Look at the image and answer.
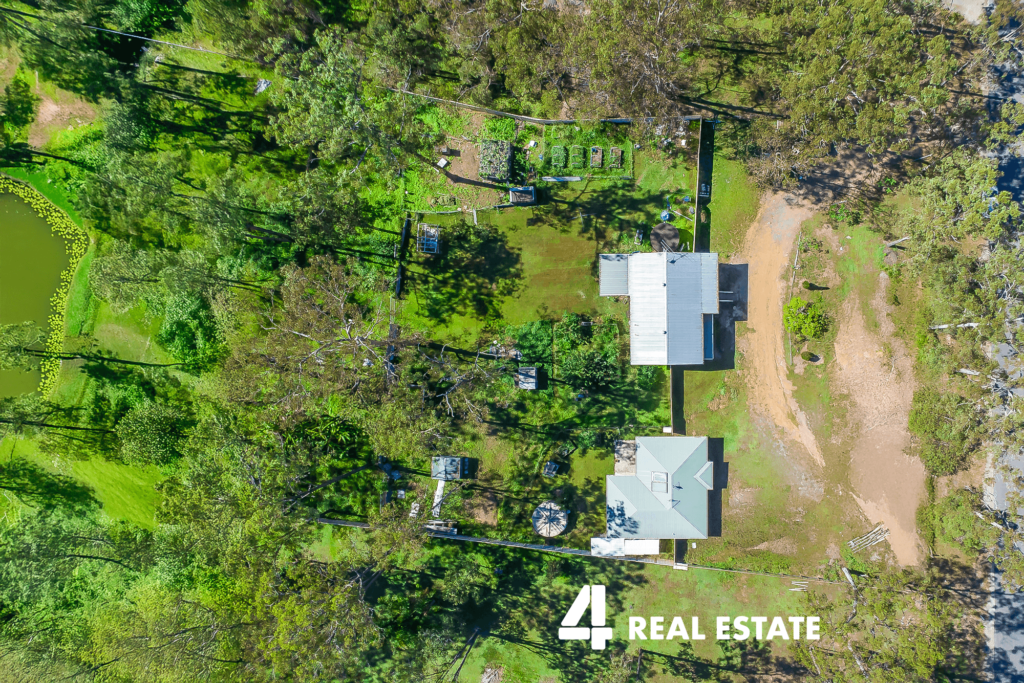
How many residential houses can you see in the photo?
2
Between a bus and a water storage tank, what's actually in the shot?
water storage tank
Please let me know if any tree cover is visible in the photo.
Yes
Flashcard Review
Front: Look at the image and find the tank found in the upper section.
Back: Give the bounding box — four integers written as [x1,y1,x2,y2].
[647,221,680,252]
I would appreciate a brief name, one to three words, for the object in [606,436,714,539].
house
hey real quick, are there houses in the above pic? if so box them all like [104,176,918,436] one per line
[606,436,714,539]
[597,247,728,365]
